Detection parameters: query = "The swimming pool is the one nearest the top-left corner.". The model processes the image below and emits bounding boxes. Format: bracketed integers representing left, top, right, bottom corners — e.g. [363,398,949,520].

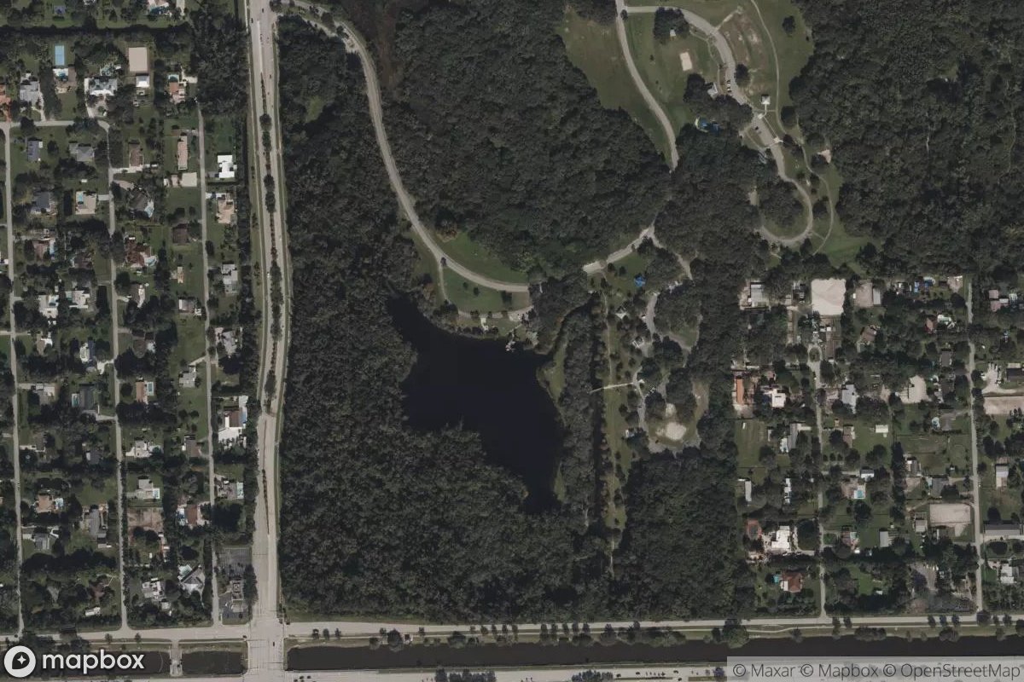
[53,68,68,81]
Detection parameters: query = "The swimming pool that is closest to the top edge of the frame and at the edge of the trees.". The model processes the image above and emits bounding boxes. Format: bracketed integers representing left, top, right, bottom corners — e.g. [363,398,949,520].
[150,3,171,16]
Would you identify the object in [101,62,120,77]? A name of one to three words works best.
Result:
swimming pool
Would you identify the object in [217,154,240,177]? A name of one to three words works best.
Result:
house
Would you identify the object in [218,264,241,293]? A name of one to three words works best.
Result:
house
